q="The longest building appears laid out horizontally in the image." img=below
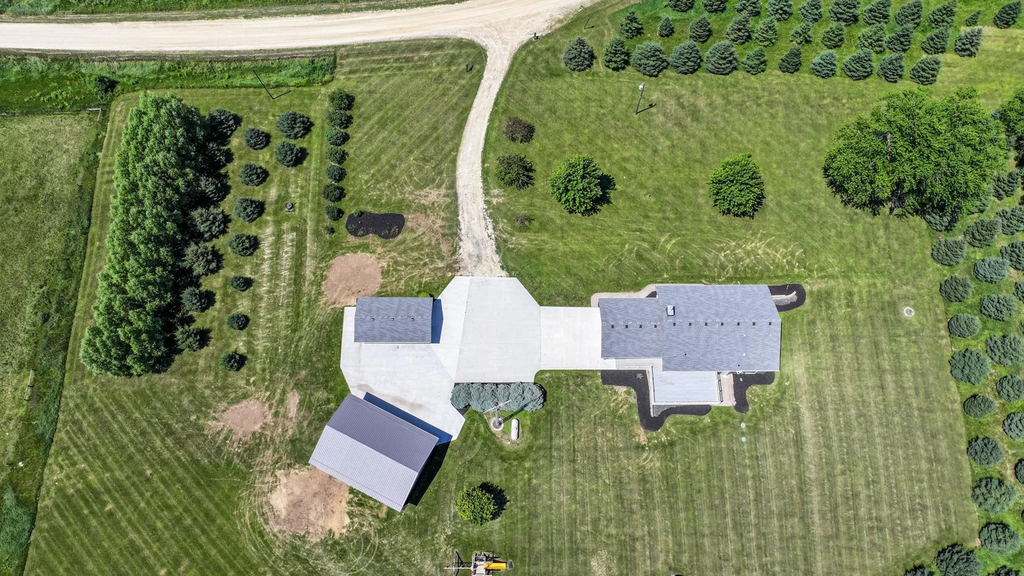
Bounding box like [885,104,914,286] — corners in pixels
[599,284,781,372]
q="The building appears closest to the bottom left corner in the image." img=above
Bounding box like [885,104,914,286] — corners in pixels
[310,392,439,512]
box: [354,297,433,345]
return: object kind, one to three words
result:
building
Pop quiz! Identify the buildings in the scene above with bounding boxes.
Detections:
[599,284,781,372]
[310,392,439,512]
[354,297,433,345]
